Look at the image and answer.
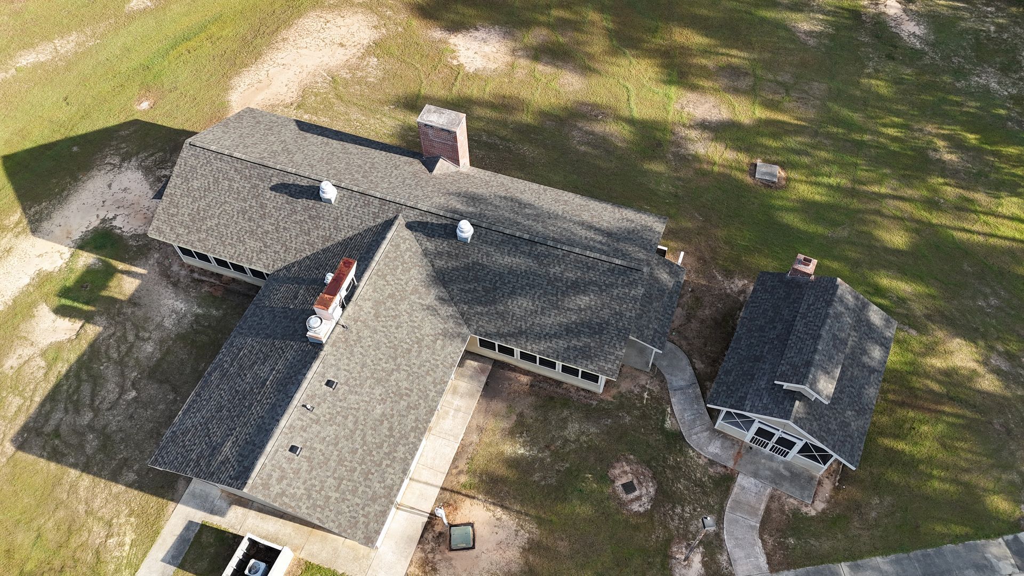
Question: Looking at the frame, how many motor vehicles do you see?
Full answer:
There are no motor vehicles in this view.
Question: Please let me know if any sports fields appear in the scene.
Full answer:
No, no sports field is visible in the view.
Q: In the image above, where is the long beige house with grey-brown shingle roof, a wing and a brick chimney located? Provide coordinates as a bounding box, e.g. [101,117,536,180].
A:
[148,105,686,551]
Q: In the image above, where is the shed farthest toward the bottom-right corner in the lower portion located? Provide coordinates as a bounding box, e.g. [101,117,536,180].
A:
[705,253,896,474]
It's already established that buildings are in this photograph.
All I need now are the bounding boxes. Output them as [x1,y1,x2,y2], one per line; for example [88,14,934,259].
[148,105,686,551]
[705,253,896,474]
